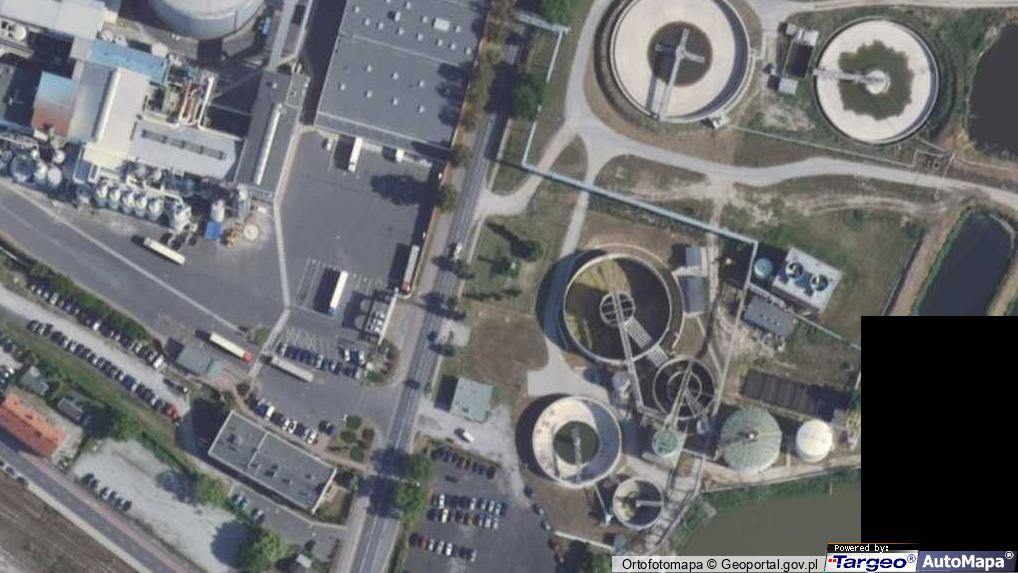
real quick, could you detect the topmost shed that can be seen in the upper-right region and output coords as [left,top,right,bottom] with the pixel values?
[783,24,818,48]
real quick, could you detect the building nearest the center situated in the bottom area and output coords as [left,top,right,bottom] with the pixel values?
[450,378,492,424]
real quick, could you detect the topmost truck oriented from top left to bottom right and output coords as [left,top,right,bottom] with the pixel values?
[143,237,186,266]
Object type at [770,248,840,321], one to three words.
cooling tower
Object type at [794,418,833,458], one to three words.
storage tank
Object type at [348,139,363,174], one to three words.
vehicle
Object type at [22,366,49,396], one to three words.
shed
